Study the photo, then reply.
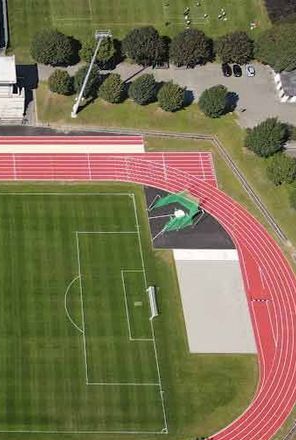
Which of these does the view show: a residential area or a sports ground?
sports ground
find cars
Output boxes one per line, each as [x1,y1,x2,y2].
[232,64,242,78]
[220,64,231,78]
[245,65,256,79]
